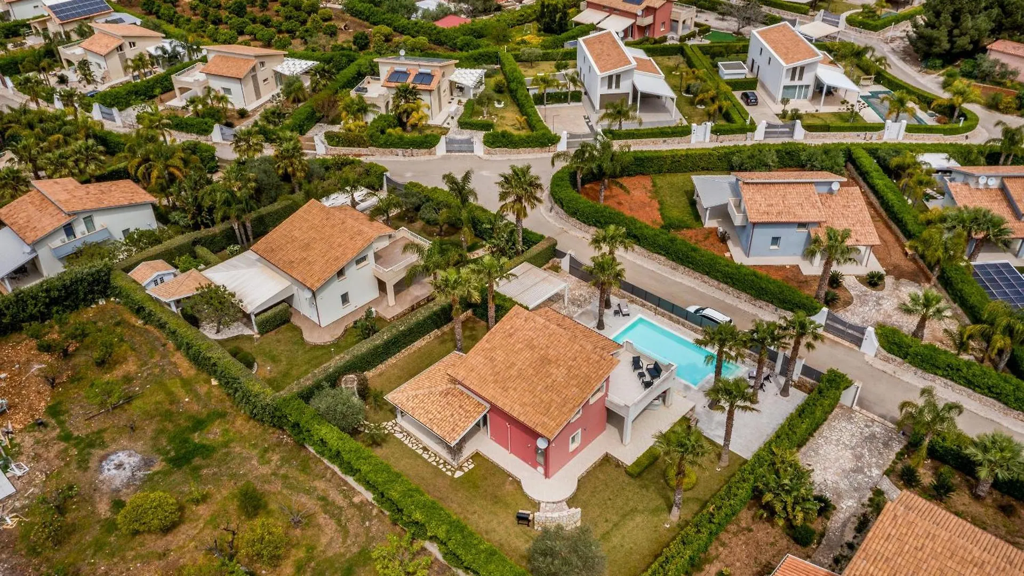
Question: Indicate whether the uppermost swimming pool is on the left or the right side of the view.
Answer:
right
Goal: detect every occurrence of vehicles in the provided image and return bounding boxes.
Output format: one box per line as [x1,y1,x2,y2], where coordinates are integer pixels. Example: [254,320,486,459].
[78,88,107,99]
[691,304,745,329]
[740,93,761,106]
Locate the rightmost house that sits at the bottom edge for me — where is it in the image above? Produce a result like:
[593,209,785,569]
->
[848,486,1024,576]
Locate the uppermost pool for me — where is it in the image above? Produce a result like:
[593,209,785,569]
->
[861,92,927,124]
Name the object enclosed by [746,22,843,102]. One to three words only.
house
